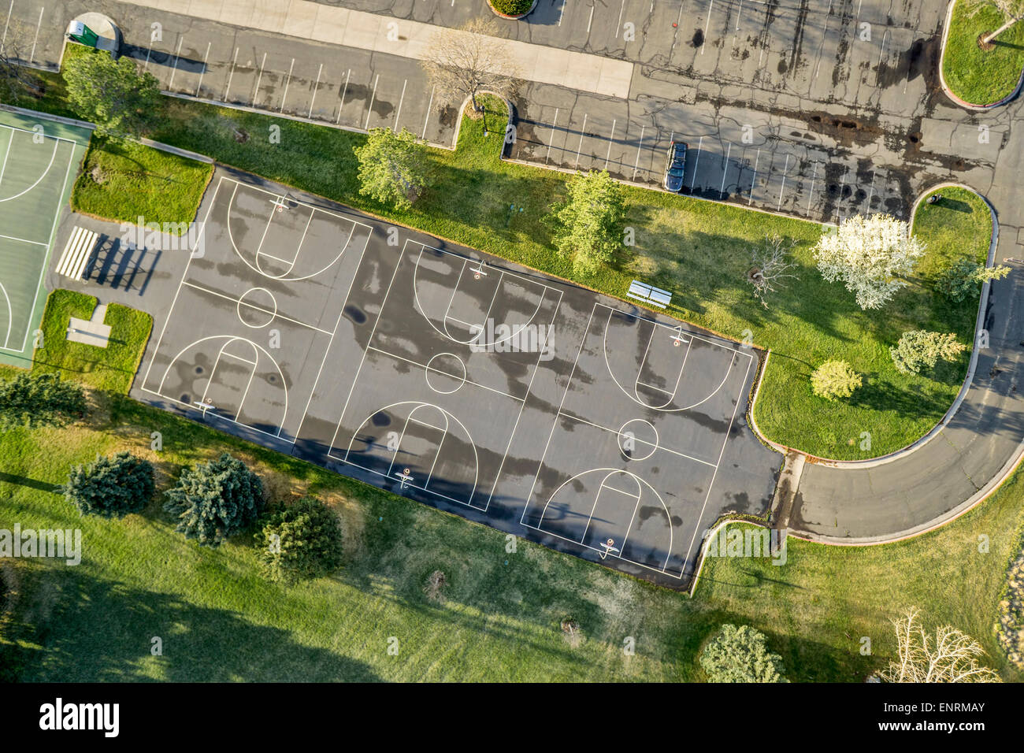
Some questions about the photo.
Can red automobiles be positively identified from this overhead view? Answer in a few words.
No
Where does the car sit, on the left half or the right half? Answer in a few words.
right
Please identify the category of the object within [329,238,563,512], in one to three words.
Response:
basketball court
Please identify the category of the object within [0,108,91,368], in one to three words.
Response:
basketball court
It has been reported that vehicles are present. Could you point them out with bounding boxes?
[661,140,690,193]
